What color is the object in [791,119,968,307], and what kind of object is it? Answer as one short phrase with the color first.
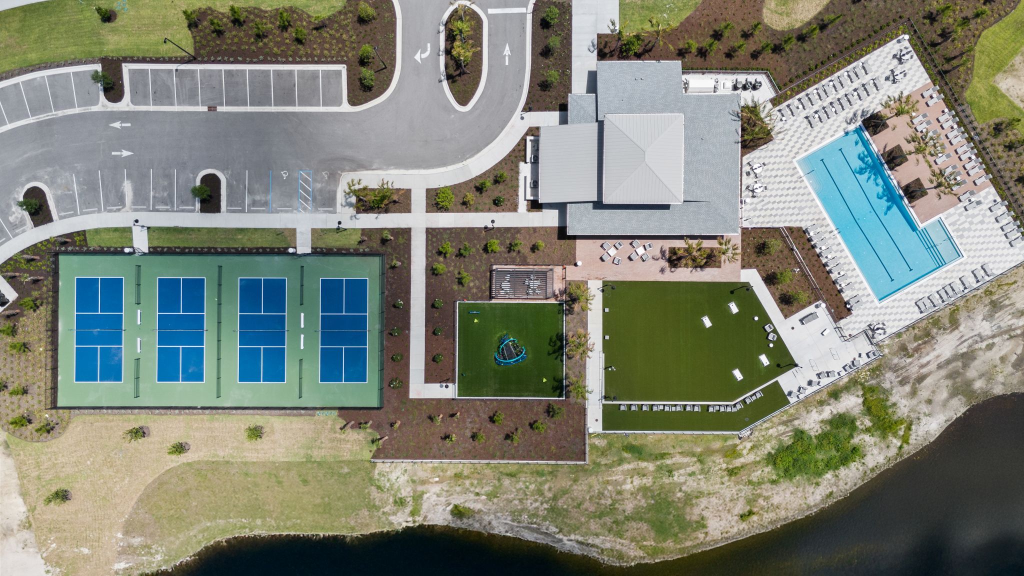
blue swimming pool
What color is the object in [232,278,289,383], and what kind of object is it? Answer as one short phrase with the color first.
blue sports court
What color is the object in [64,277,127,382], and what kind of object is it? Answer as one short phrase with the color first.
blue sports court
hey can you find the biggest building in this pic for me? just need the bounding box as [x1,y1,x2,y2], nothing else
[539,60,741,236]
